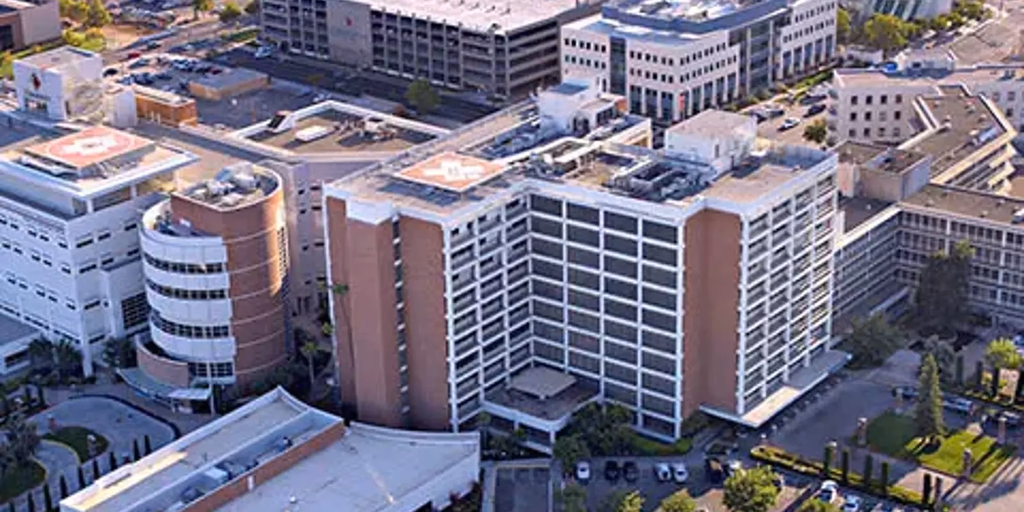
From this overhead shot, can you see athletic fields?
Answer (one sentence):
No, there's no athletic field here.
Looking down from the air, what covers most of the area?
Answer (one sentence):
The bulk of the photo consists of buildings.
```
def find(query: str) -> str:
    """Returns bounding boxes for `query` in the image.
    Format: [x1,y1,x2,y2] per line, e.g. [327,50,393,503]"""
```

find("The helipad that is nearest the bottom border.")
[389,151,506,198]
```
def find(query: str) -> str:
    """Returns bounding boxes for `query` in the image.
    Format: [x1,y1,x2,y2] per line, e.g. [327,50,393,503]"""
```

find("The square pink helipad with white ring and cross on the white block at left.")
[21,126,155,173]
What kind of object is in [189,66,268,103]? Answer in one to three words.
building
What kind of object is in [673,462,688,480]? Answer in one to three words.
car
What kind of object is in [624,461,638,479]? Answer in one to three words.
car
